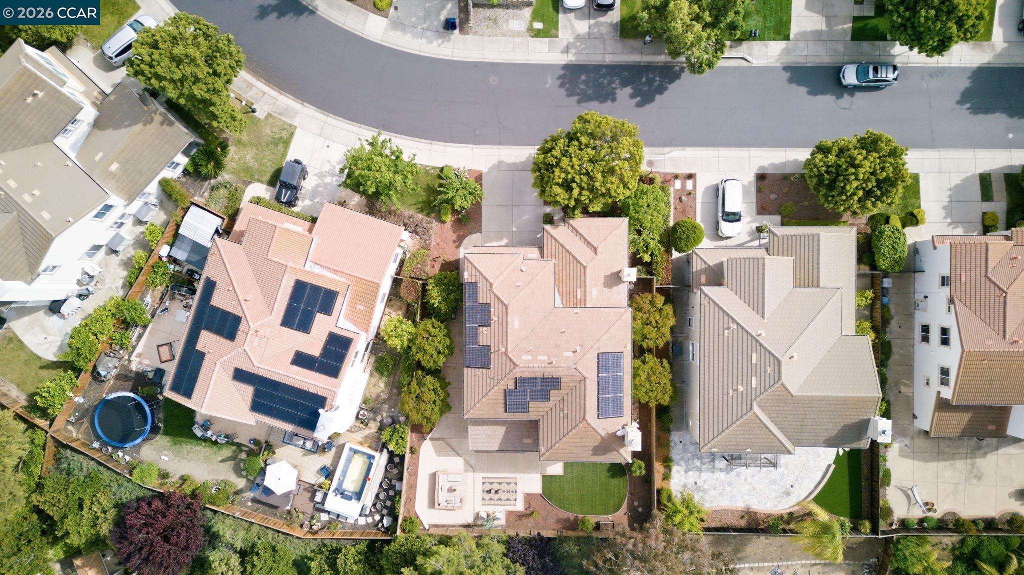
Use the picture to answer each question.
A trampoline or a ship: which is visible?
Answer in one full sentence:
There is a trampoline in the scene.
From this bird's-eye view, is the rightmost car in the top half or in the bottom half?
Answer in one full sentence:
The top half of the photo is where the rightmost car is.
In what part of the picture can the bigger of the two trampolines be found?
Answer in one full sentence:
Look in the bottom left portion of the view to spot the bigger of the two trampolines.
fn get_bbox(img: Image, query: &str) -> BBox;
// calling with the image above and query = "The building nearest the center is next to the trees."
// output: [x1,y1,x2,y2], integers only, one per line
[462,216,641,464]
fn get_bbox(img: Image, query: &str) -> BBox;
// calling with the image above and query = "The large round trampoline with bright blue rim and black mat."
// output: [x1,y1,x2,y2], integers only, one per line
[77,391,151,453]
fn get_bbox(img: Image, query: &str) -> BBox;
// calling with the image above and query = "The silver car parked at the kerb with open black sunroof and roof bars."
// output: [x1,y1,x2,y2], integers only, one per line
[841,58,902,87]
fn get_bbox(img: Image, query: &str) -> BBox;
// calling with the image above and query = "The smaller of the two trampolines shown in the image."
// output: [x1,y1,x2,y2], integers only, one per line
[152,344,171,364]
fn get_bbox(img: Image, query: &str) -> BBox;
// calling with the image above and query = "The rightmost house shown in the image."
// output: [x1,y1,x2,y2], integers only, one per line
[914,227,1024,439]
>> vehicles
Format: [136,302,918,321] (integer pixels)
[96,13,158,66]
[564,0,587,9]
[841,58,902,87]
[719,177,749,235]
[269,156,304,207]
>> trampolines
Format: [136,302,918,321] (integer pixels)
[152,344,171,364]
[77,391,151,453]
